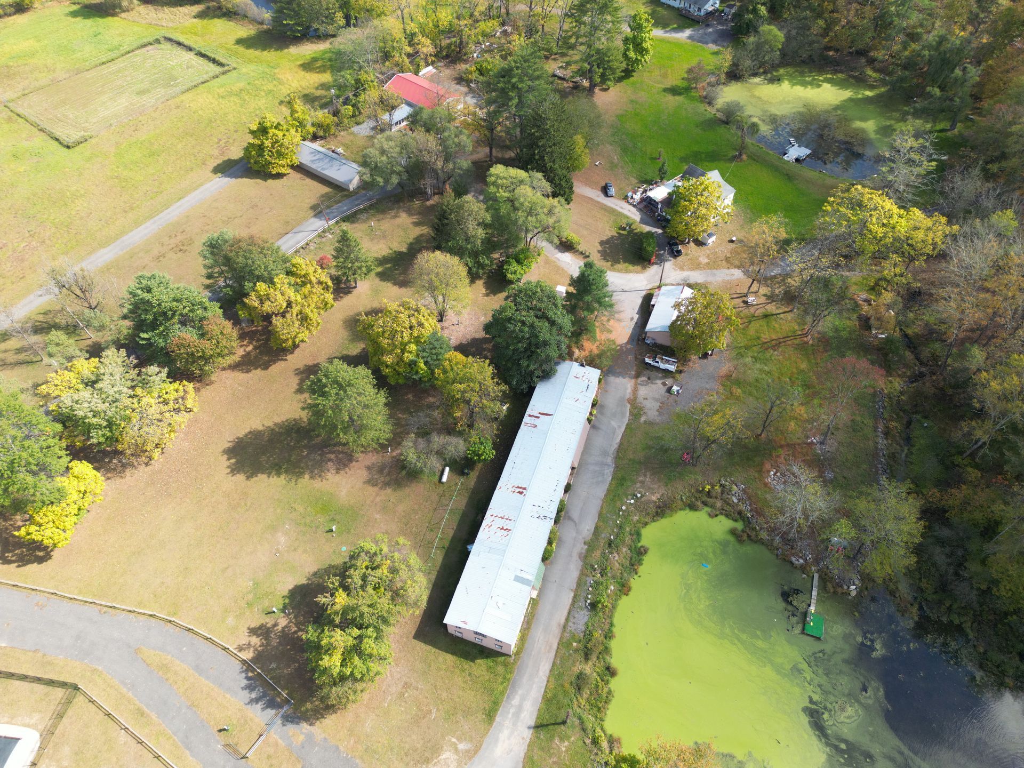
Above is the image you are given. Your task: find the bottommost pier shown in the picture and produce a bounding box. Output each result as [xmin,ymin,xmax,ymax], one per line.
[804,573,826,640]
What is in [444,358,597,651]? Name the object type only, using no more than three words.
building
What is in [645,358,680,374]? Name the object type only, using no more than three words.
vehicle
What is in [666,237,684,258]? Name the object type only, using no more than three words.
vehicle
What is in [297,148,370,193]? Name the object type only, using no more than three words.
shed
